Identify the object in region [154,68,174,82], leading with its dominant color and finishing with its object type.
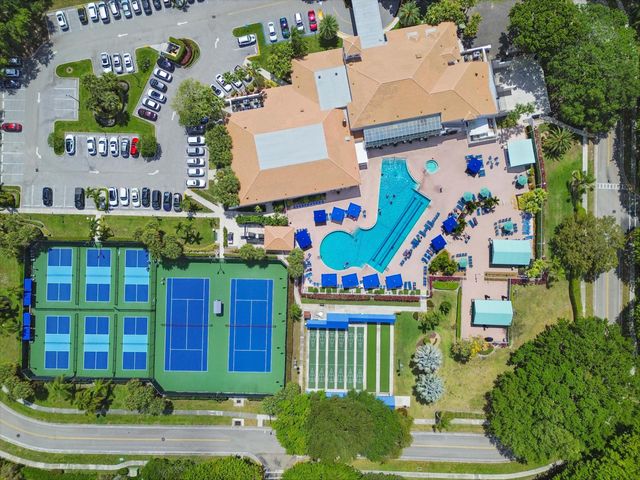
white car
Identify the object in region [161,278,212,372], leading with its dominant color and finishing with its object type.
blue tennis court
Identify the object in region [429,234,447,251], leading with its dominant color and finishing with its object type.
blue umbrella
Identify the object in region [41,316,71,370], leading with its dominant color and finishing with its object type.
blue sports court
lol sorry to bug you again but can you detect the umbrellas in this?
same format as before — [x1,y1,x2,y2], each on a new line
[385,274,402,289]
[466,158,481,172]
[313,210,326,223]
[462,191,472,201]
[321,274,337,288]
[517,175,527,186]
[346,204,362,219]
[429,234,447,251]
[295,229,312,249]
[342,273,359,289]
[330,208,346,223]
[442,216,457,232]
[503,221,512,231]
[479,187,489,196]
[458,258,467,267]
[362,273,380,289]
